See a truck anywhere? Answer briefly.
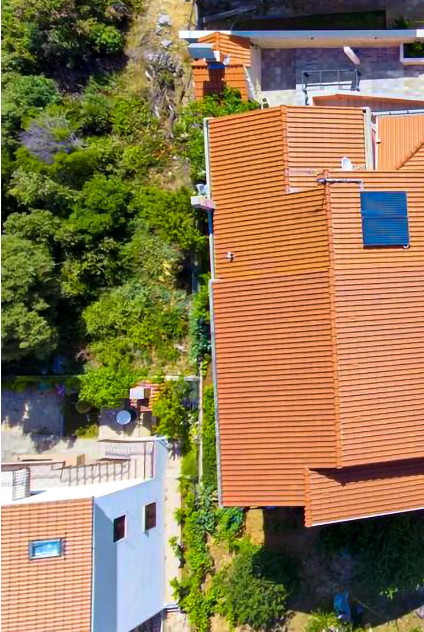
No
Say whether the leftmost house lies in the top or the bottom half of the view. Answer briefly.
bottom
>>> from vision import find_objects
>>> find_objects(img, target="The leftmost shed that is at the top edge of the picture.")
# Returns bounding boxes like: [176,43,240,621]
[189,31,260,104]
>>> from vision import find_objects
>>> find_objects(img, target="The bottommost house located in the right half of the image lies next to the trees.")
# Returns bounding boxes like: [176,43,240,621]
[191,106,424,528]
